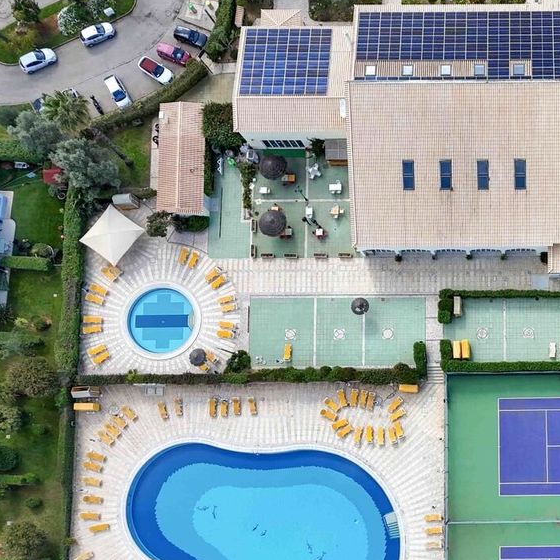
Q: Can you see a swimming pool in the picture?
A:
Yes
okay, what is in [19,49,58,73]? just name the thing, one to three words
car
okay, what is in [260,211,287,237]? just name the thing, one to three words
umbrella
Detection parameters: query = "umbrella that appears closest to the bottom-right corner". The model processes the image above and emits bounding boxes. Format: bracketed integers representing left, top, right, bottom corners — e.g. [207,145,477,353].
[351,298,370,316]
